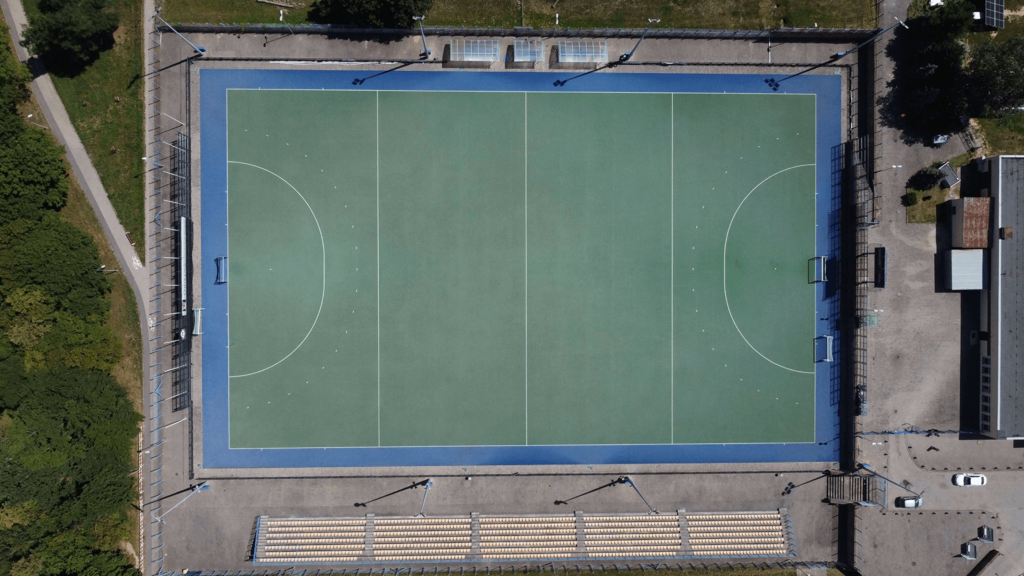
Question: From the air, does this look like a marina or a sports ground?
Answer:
sports ground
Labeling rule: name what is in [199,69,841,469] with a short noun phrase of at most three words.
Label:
sports field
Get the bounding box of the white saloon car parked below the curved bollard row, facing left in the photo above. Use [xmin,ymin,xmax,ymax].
[957,473,989,489]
